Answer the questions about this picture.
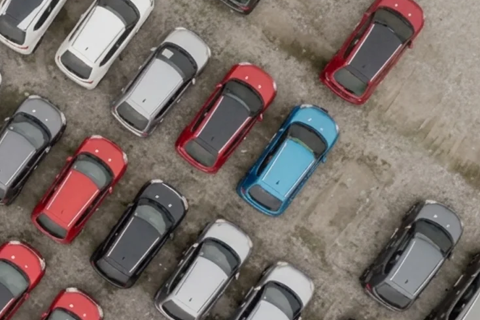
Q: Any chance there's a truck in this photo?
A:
No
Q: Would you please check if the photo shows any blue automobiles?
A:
Yes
